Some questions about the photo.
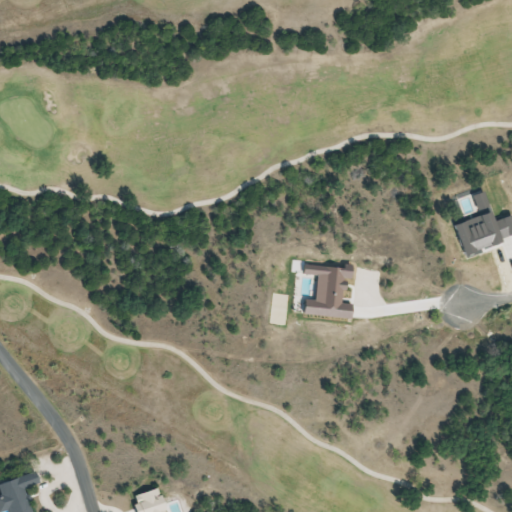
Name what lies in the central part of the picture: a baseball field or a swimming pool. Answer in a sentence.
The one visible in the central part of the picture is a swimming pool.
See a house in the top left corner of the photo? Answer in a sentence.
No, in the top left corner of the photo there is no house.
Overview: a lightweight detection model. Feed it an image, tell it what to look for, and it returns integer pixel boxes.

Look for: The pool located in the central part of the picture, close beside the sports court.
[294,274,316,312]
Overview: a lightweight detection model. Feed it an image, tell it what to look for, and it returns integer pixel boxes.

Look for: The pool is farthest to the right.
[458,194,475,216]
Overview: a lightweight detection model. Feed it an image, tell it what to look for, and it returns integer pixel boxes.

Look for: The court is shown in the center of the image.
[270,293,289,326]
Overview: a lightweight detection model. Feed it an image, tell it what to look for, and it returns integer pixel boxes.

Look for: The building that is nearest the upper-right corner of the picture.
[455,194,512,258]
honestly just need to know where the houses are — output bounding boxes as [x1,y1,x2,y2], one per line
[0,472,40,512]
[455,194,512,258]
[304,264,354,319]
[135,488,170,512]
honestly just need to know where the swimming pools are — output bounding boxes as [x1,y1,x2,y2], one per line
[294,274,316,312]
[458,194,475,216]
[168,500,184,512]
